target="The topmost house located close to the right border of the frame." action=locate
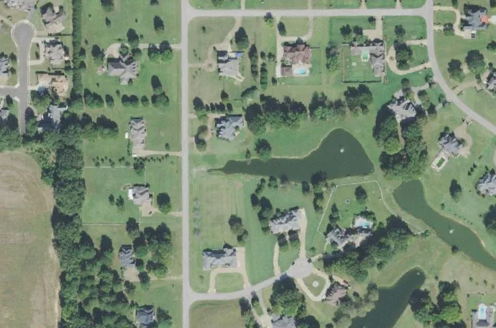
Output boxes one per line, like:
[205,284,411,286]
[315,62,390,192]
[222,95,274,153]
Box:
[462,7,488,31]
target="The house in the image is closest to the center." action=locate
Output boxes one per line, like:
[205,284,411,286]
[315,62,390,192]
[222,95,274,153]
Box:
[215,116,245,140]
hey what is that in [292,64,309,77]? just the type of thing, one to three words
swimming pool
